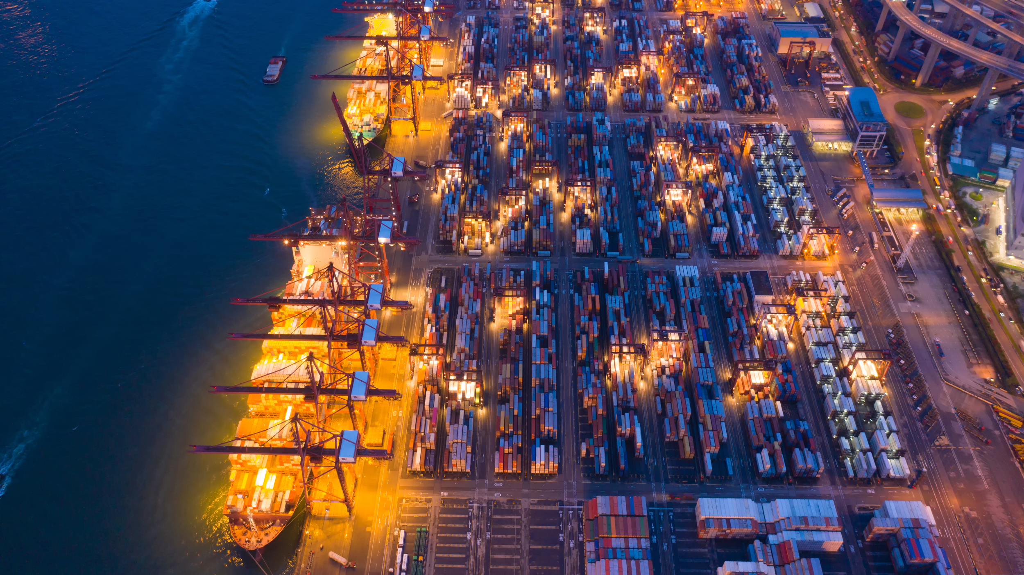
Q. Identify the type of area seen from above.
port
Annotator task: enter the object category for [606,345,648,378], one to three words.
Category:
container crane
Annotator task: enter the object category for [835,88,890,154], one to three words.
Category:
building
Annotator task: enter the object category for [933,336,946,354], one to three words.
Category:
vehicle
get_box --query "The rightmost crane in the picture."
[846,350,896,384]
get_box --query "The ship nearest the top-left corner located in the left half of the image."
[264,55,287,84]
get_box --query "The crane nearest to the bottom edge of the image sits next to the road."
[185,411,396,521]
